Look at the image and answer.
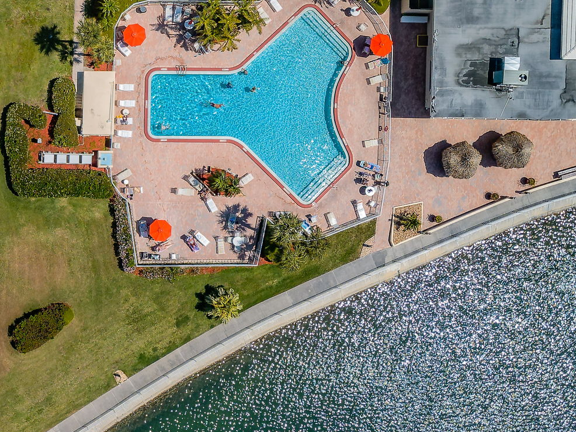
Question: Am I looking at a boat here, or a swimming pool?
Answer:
swimming pool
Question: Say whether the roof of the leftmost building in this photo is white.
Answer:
Yes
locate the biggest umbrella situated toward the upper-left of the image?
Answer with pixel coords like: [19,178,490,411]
[122,22,146,48]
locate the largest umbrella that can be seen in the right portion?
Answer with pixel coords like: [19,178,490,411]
[367,33,391,57]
